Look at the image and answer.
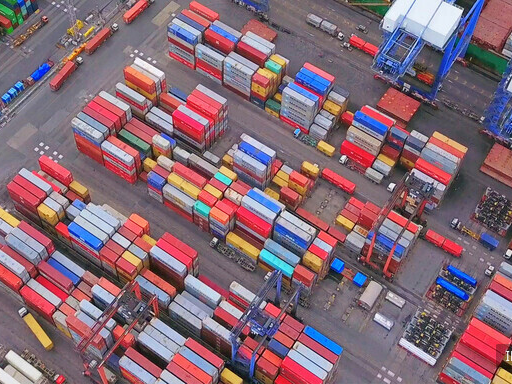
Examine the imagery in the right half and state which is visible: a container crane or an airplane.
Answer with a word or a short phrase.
container crane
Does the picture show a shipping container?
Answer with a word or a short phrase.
Yes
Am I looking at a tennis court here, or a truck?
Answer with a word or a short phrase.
truck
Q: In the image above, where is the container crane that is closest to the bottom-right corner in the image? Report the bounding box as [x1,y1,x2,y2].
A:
[358,169,437,277]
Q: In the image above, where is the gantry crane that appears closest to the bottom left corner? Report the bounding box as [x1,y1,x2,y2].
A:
[73,274,163,384]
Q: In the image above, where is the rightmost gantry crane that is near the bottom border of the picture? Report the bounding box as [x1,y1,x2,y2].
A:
[227,267,305,384]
